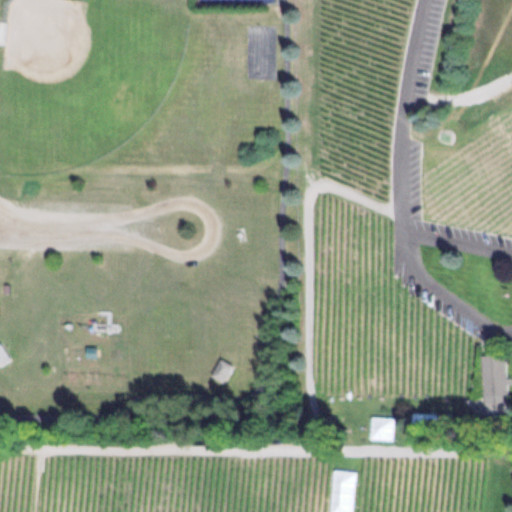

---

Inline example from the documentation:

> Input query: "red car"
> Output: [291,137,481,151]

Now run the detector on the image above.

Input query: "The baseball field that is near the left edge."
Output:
[0,0,189,176]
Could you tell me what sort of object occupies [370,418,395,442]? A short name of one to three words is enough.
house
